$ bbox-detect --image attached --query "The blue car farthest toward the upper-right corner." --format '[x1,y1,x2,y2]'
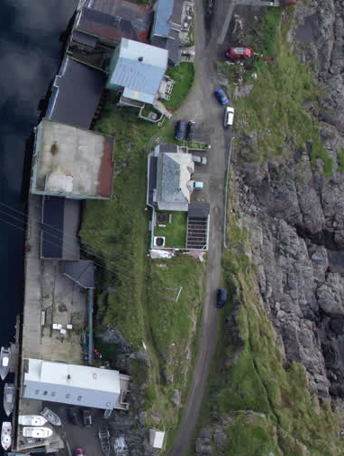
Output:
[215,86,230,106]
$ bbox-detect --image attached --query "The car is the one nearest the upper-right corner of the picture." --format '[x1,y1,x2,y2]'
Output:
[227,45,252,58]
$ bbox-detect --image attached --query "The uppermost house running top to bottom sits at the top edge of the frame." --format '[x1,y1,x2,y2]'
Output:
[150,0,184,66]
